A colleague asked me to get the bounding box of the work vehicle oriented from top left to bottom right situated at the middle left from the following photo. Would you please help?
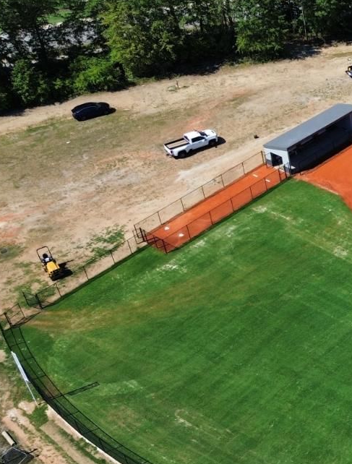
[32,244,65,282]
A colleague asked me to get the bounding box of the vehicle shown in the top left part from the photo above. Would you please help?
[69,98,112,115]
